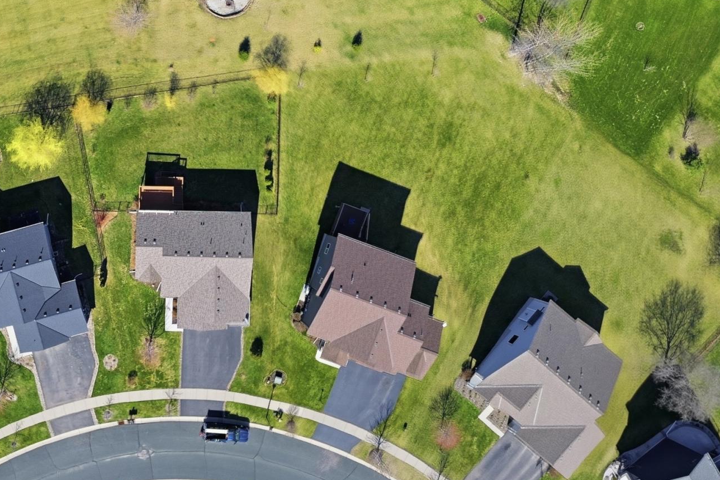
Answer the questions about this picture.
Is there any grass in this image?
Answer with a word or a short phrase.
Yes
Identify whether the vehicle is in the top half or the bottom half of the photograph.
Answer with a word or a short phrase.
bottom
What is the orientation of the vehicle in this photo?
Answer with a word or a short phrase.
from left to right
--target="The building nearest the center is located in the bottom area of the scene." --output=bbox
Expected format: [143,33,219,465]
[292,204,444,381]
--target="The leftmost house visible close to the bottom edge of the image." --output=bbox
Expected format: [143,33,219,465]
[463,294,622,479]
